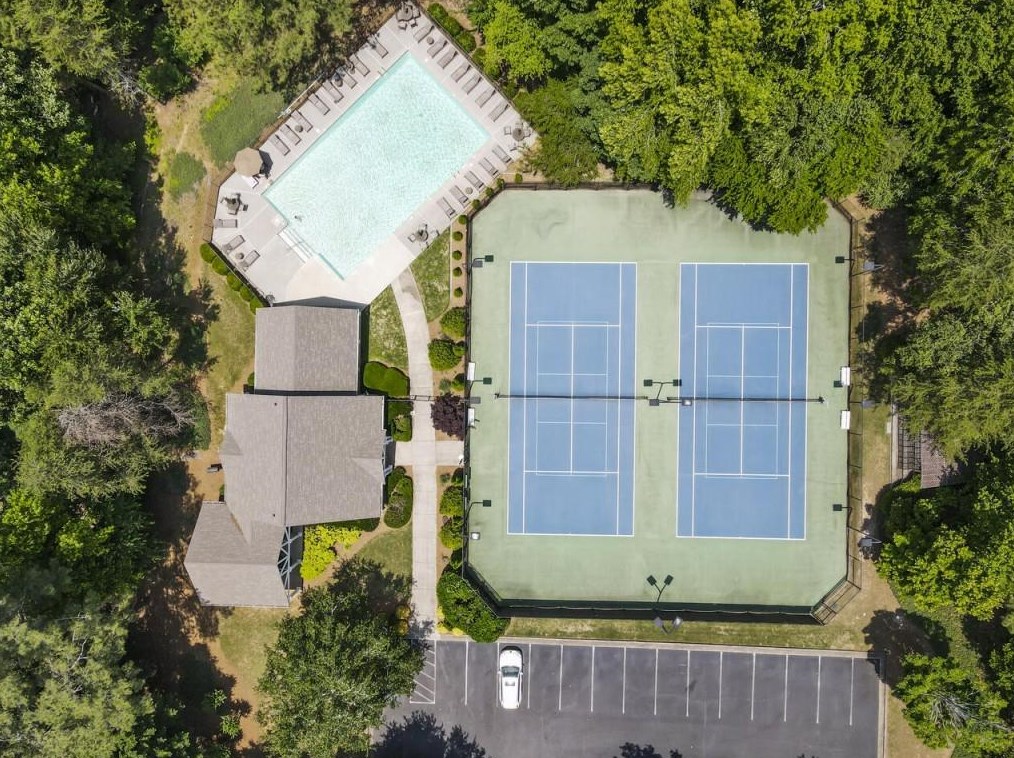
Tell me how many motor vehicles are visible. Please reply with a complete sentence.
The photo contains exactly 1 motor vehicle.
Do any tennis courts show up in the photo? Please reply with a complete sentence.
Yes, there's a tennis court here.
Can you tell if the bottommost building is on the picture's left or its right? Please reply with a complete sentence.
The bottommost building appears in the left half of the scene.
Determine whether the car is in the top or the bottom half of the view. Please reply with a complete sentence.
The bottom half of the photo is where the car is.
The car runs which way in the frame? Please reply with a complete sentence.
In this picture, the car lies up and down.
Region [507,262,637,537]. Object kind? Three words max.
tennis court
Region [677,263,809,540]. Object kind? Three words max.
tennis court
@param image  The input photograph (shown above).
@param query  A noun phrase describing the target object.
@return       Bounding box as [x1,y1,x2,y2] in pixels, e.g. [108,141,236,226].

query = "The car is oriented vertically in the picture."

[498,649,525,712]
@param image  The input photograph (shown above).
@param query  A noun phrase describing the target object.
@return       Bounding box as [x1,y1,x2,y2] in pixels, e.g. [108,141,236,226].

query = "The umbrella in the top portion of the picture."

[235,149,263,177]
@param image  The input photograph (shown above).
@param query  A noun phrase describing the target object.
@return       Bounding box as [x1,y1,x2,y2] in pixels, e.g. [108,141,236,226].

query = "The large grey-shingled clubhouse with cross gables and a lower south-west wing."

[186,395,403,607]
